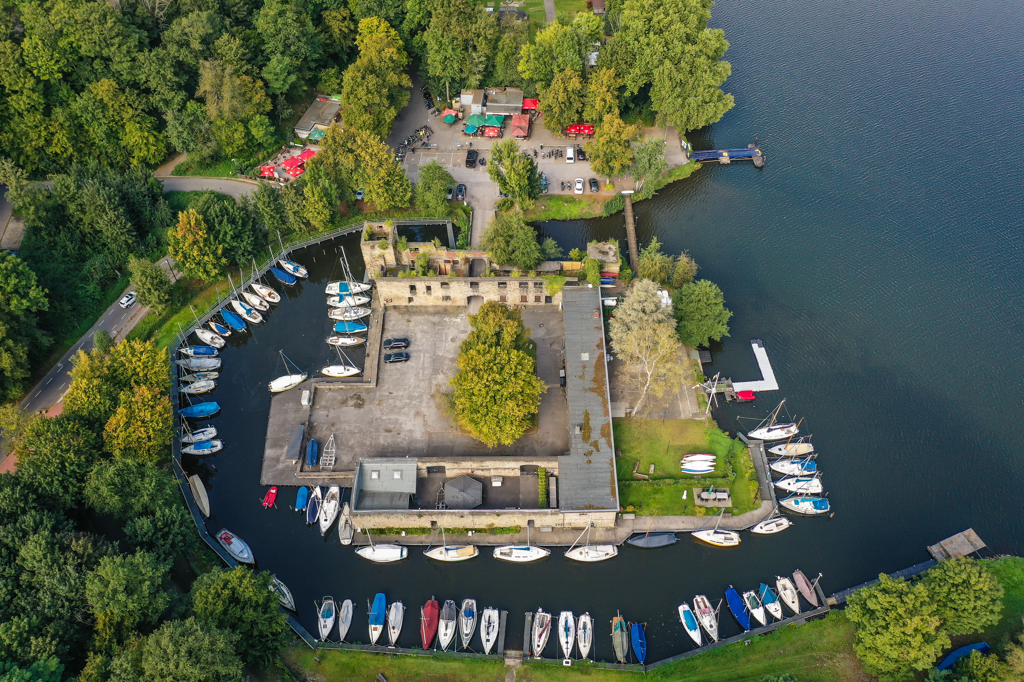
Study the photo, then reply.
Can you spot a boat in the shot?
Yes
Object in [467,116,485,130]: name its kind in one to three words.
umbrella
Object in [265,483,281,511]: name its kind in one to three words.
boat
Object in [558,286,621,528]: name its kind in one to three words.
building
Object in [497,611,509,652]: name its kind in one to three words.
pier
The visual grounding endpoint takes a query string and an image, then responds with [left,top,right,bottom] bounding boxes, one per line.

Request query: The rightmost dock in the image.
[824,554,936,606]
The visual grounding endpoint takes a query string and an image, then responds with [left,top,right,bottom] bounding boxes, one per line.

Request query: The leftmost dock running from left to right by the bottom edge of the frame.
[317,640,503,659]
